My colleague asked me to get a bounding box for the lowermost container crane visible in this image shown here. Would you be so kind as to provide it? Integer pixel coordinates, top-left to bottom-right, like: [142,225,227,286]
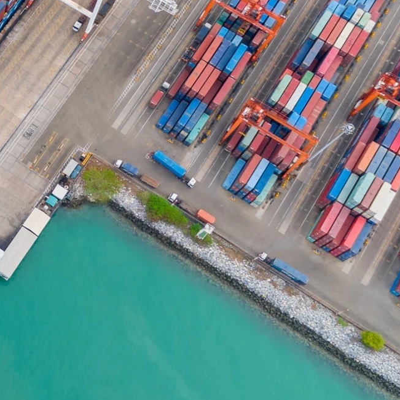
[219,98,323,182]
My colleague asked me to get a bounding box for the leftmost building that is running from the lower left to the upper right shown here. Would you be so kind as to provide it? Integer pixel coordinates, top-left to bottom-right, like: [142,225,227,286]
[0,226,37,278]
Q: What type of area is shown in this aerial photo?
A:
port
